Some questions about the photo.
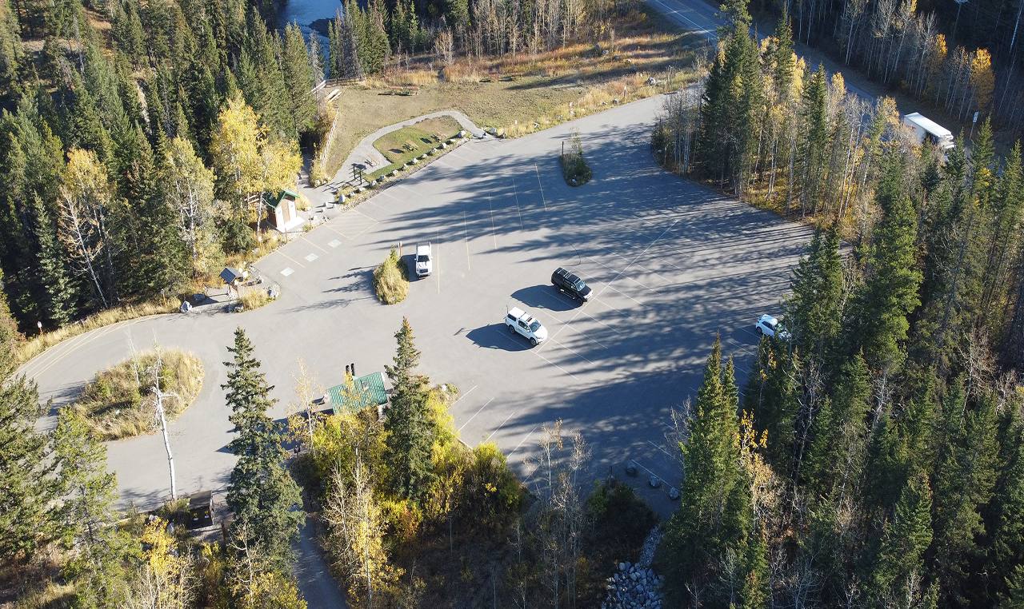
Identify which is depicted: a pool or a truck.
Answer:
truck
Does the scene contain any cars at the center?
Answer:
Yes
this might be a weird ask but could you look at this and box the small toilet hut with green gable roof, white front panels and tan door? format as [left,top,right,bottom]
[249,182,309,232]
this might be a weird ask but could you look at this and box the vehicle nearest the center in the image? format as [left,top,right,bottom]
[505,310,551,345]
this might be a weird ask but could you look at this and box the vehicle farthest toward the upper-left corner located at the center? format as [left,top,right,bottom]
[413,245,432,273]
